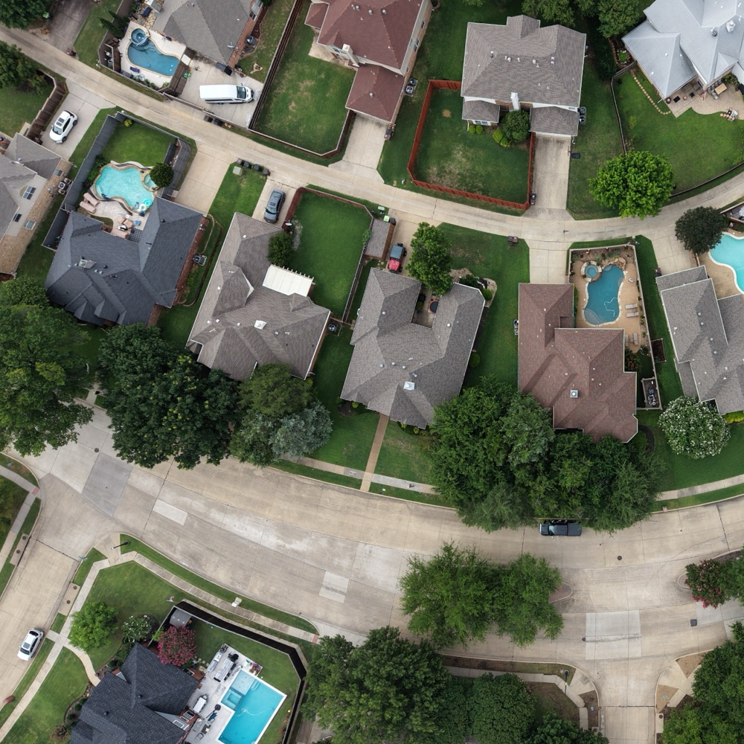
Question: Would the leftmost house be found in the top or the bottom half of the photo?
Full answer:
It is in the top half that the leftmost house appears.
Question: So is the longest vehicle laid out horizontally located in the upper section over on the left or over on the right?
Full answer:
The longest vehicle laid out horizontally located in the upper section appears in the left half of the scene.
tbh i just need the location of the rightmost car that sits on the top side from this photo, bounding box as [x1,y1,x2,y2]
[388,242,407,273]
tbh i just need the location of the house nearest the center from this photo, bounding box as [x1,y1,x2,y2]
[338,267,487,429]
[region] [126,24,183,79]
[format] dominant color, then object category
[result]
blue swimming pool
